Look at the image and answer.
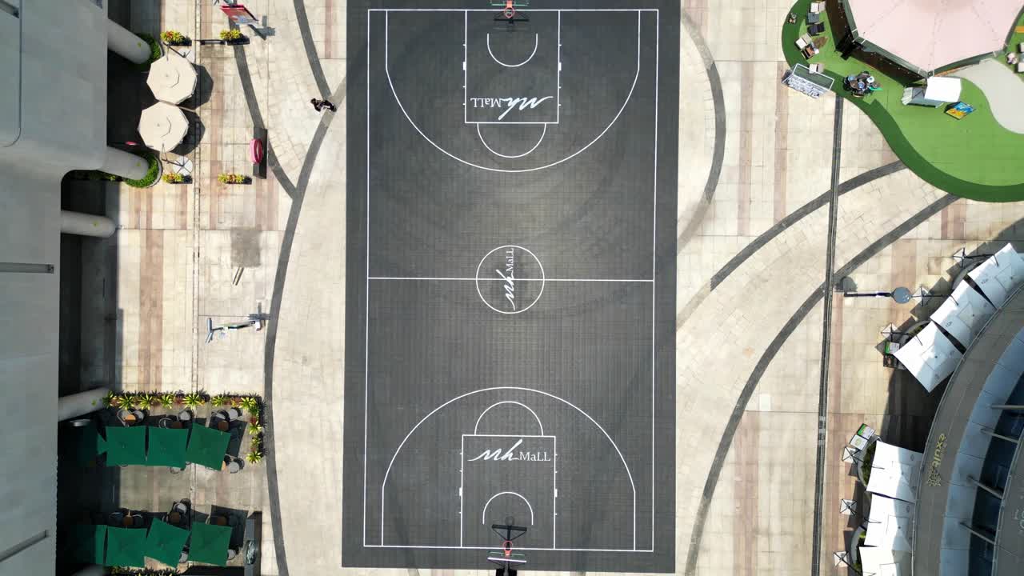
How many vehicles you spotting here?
zero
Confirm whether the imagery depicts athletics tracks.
No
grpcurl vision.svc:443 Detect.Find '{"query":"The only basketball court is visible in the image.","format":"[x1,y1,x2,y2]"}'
[343,0,681,569]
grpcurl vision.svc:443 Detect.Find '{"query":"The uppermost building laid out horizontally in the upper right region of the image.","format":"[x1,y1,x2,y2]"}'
[833,0,1024,80]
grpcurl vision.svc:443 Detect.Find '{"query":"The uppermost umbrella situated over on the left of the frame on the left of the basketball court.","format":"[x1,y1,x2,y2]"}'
[146,39,199,105]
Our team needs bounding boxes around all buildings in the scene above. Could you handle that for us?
[0,0,149,576]
[909,278,1024,576]
[833,0,1024,80]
